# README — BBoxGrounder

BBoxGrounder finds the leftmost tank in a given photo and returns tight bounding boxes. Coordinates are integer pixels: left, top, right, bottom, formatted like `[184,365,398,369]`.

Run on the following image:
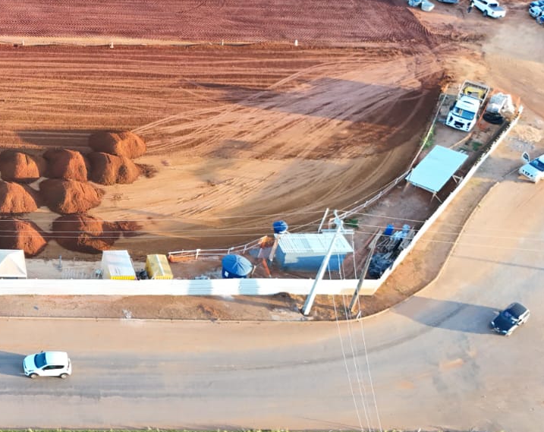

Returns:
[222,253,254,280]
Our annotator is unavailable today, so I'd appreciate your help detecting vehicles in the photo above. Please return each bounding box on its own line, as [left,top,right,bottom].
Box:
[467,0,513,20]
[530,0,544,8]
[23,355,71,381]
[521,154,544,185]
[450,69,488,135]
[491,304,535,338]
[531,5,544,20]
